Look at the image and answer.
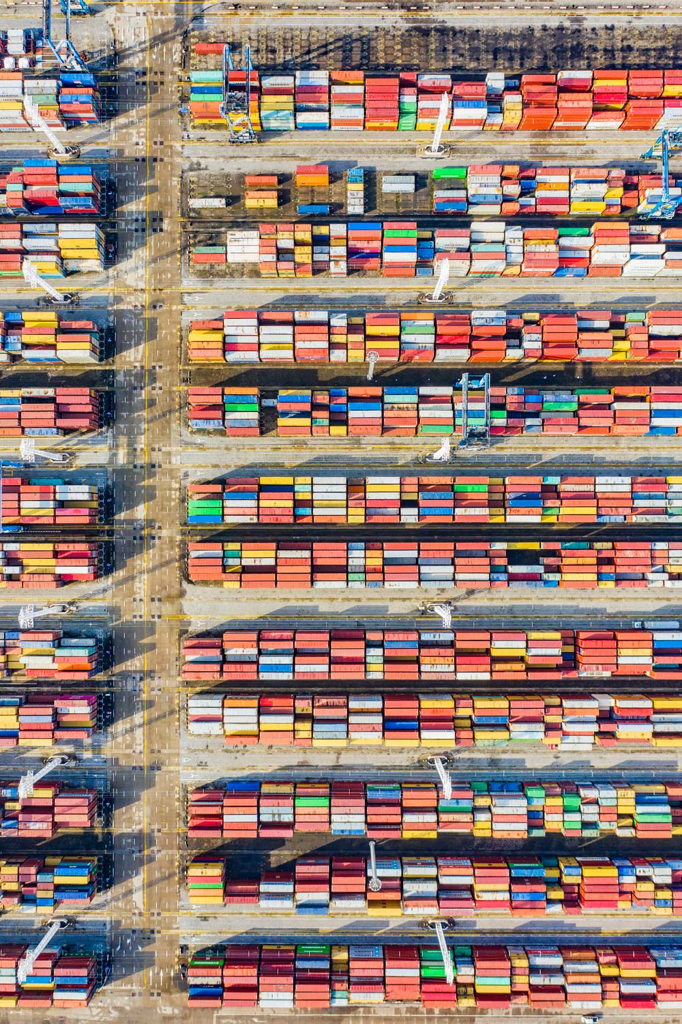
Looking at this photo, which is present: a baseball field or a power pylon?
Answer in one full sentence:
There is a power pylon in the scene.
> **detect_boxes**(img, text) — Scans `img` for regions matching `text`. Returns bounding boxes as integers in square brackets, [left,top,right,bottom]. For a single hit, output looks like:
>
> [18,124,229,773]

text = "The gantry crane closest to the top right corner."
[641,124,682,220]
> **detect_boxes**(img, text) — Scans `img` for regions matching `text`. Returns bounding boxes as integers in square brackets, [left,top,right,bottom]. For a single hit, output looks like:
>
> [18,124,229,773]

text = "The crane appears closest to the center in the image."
[453,368,492,451]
